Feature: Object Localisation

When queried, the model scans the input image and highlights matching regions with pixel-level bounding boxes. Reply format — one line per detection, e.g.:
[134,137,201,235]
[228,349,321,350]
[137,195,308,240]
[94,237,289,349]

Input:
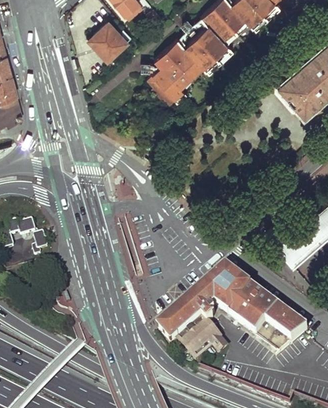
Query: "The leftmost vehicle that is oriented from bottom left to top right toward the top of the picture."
[20,135,33,150]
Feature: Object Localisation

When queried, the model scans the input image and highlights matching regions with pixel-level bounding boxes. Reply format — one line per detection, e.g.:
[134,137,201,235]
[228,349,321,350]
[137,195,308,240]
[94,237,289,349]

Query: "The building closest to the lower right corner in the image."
[256,298,306,354]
